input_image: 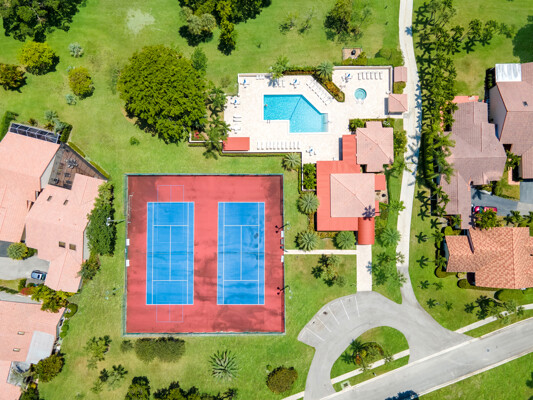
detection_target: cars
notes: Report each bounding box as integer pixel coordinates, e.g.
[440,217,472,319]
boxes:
[28,271,47,281]
[476,205,499,214]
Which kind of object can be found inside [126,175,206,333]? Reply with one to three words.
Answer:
tennis court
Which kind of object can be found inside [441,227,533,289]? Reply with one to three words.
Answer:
house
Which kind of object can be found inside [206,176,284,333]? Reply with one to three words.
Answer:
tennis court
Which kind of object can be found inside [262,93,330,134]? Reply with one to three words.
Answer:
swimming pool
